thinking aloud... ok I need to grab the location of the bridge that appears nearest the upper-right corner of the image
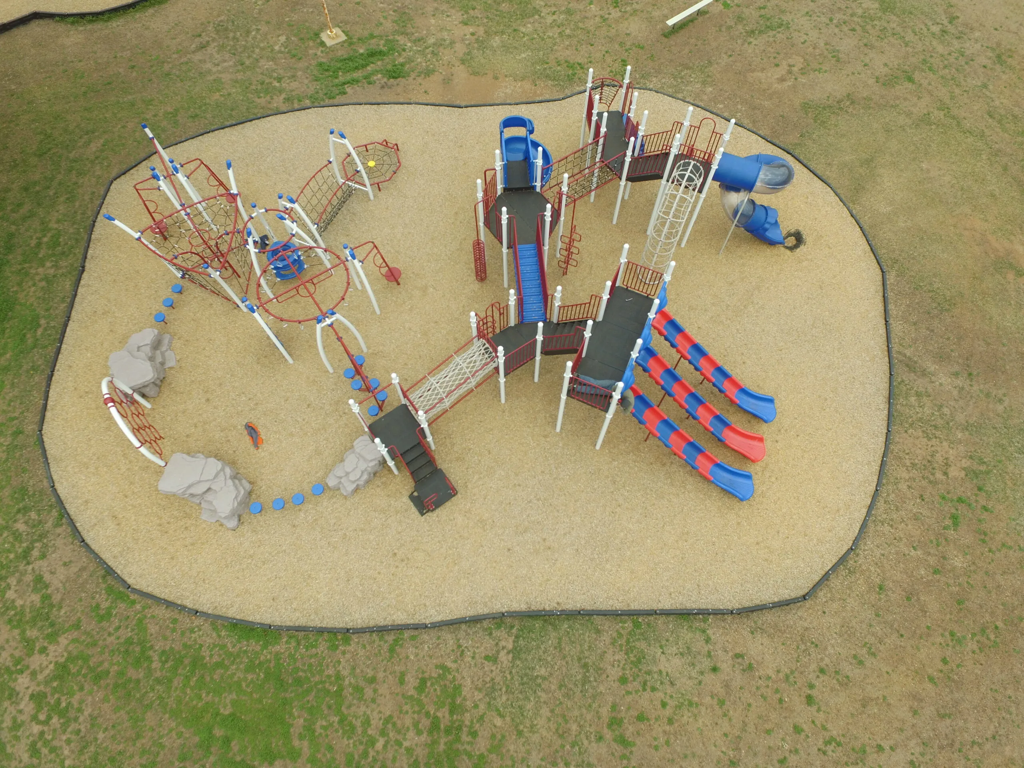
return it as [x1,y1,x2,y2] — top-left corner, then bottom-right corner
[539,135,626,213]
